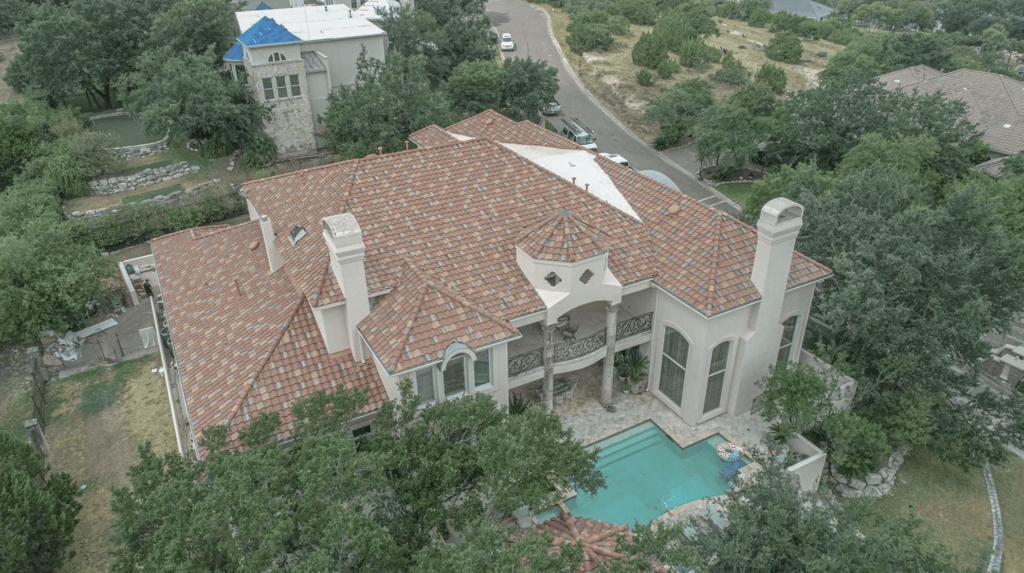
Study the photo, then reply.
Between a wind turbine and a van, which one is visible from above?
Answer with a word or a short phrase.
van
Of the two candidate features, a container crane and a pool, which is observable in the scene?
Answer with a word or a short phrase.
pool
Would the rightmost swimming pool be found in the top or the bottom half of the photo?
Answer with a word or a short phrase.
bottom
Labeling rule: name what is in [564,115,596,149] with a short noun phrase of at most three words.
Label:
van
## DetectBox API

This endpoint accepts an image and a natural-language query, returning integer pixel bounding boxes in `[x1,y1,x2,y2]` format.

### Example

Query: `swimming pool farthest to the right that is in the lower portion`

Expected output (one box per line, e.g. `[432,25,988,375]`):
[560,413,764,533]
